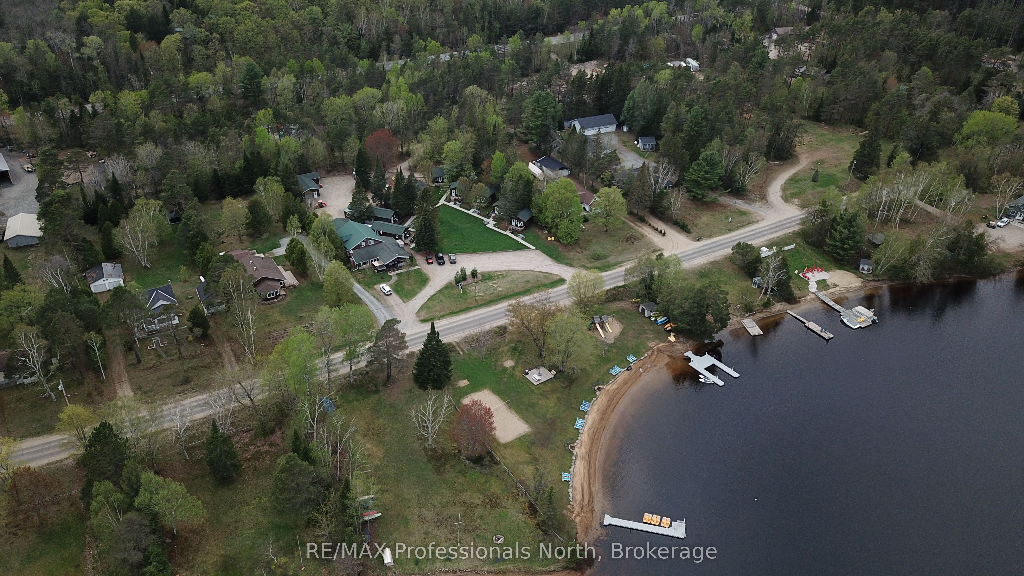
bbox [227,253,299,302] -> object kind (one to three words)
house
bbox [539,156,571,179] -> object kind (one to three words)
building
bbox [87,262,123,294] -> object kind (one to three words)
building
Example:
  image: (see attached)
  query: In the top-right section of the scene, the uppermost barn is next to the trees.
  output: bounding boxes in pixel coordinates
[770,26,814,42]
